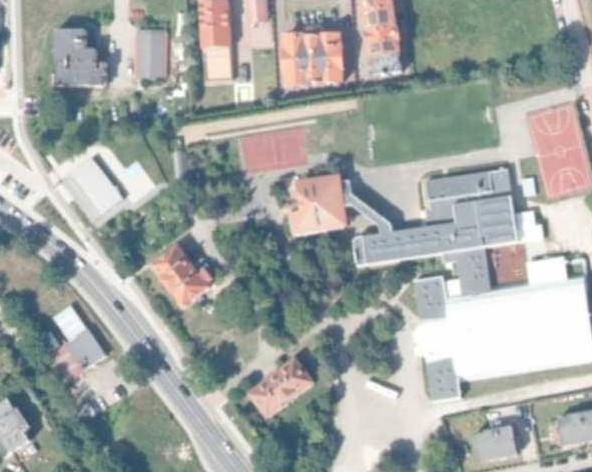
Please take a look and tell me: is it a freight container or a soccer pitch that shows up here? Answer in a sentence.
There is a soccer pitch in the scene.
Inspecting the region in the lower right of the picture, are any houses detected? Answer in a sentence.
Yes, the scene does show a house in the lower right of the picture.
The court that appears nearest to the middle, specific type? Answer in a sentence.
It looks like the court that appears nearest to the middle is a tennis court.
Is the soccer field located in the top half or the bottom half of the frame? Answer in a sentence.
Seen from above, the soccer field lies in the top half of the view.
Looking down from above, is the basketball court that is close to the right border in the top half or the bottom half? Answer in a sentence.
You can find the basketball court that is close to the right border in the top half.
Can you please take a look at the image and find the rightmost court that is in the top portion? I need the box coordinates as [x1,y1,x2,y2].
[525,100,592,201]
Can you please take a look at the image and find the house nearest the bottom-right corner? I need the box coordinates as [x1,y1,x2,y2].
[550,408,592,444]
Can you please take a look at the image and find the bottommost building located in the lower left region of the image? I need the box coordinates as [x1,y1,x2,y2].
[0,393,34,454]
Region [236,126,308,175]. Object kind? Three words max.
tennis court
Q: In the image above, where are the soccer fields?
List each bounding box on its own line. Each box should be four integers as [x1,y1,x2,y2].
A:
[362,81,498,167]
